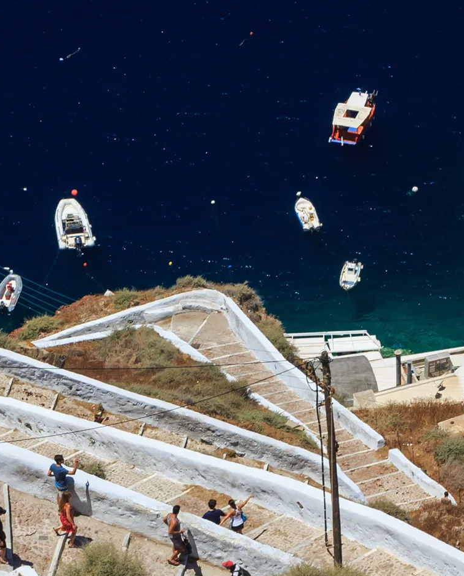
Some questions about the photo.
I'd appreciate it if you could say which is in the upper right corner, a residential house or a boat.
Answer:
boat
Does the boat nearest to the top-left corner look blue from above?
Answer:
No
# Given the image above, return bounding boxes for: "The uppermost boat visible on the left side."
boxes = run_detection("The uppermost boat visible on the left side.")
[52,196,98,257]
